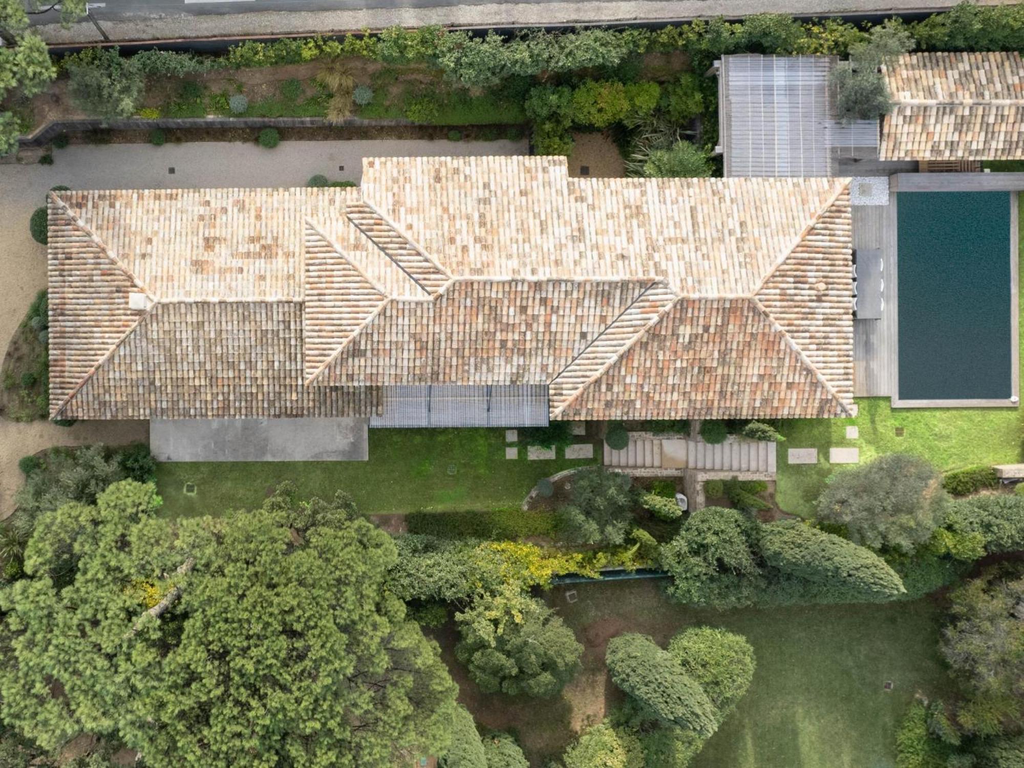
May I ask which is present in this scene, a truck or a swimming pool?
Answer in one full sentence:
It is a swimming pool that can be seen here.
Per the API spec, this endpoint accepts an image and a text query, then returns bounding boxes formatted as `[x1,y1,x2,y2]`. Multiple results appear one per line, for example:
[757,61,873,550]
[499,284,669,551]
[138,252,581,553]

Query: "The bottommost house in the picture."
[46,151,854,422]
